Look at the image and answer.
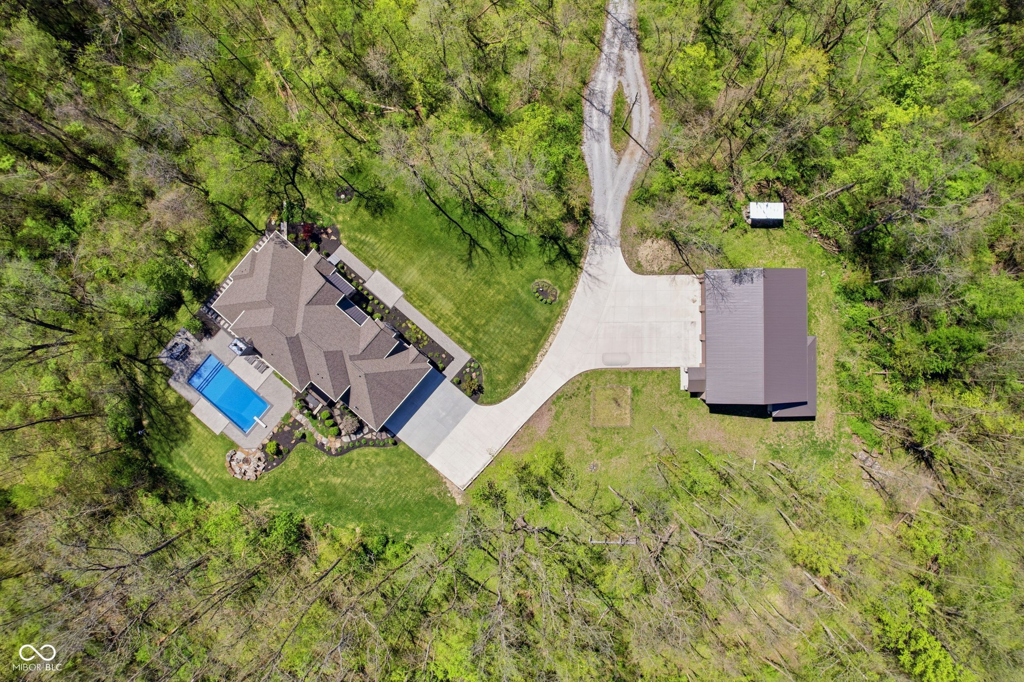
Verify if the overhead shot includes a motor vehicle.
No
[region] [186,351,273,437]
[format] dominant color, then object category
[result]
blue swimming pool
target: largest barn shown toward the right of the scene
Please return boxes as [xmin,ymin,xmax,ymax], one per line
[681,268,816,417]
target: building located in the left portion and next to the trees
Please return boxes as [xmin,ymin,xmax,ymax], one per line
[210,230,433,432]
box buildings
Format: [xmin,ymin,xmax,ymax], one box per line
[743,203,784,221]
[681,268,816,417]
[210,230,433,432]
